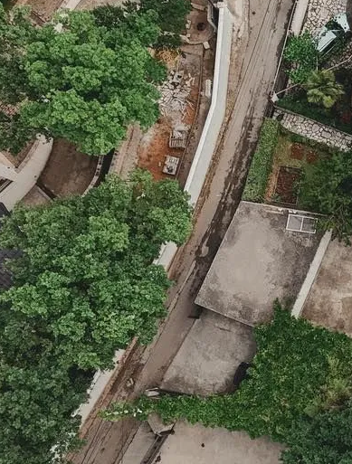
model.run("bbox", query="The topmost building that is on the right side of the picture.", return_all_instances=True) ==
[195,200,329,327]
